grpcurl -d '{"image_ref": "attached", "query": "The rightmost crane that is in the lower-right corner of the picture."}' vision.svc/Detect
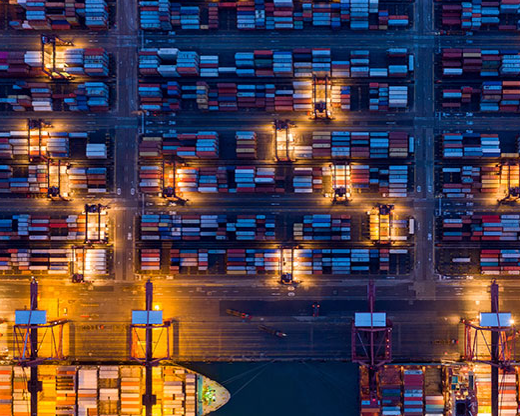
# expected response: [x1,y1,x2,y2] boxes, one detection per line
[462,280,516,416]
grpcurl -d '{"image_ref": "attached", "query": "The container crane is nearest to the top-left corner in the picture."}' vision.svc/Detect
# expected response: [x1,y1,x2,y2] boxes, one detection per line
[40,35,67,79]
